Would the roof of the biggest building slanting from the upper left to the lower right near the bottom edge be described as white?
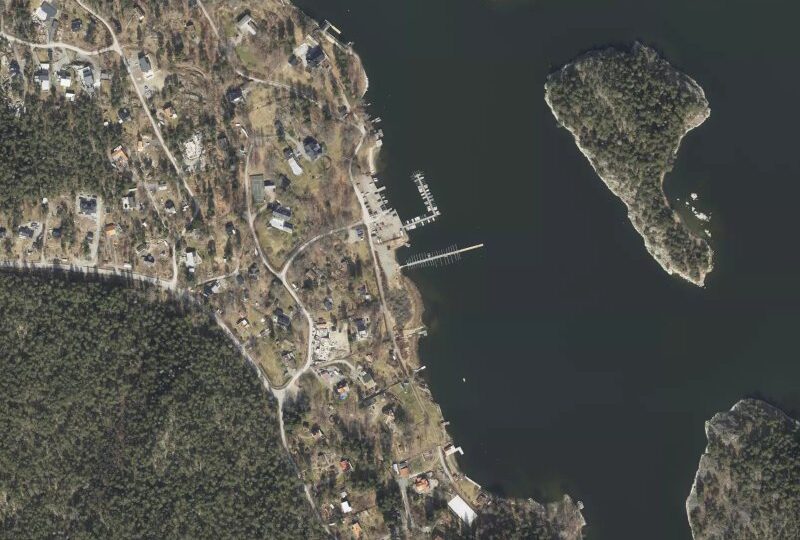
Yes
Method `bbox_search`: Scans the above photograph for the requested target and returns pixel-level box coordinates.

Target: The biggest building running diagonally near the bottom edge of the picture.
[448,495,478,525]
